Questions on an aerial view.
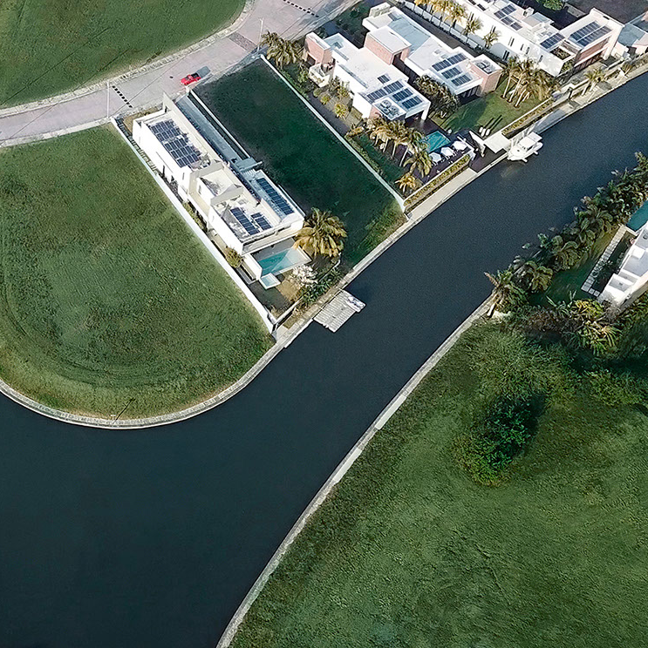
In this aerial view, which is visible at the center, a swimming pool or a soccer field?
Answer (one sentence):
You can see a swimming pool at the center.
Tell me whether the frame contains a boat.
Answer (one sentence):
Yes, there's a boat down there.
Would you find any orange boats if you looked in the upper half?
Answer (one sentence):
No, I see no orange boat in the upper half.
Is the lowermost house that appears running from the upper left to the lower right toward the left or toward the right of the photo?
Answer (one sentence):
The lowermost house that appears running from the upper left to the lower right appears in the left half of the scene.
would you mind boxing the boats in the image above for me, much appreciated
[346,298,366,314]
[508,122,548,158]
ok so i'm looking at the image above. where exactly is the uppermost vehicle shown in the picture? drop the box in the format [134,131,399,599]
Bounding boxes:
[178,66,204,85]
